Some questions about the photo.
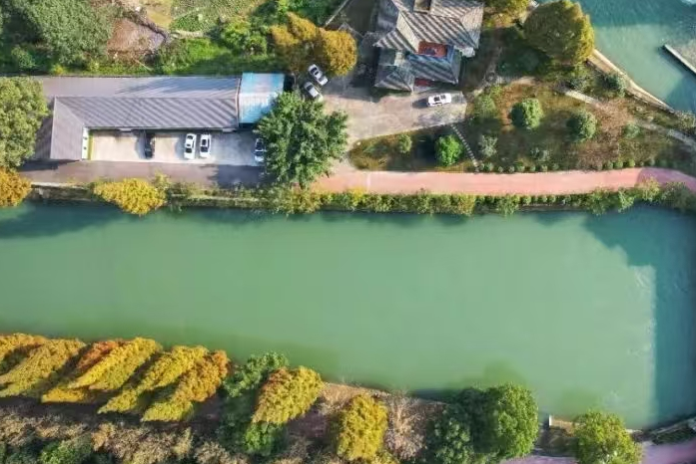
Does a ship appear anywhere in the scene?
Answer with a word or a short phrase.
No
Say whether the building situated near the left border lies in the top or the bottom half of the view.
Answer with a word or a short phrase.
top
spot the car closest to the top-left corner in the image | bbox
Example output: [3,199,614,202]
[142,133,155,157]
